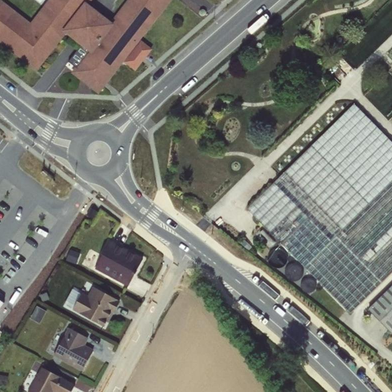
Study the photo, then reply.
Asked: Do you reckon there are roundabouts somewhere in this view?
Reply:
Yes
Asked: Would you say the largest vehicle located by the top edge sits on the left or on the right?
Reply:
right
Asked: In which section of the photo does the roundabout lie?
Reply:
left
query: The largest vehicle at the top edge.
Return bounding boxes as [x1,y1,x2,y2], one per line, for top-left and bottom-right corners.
[246,14,268,34]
